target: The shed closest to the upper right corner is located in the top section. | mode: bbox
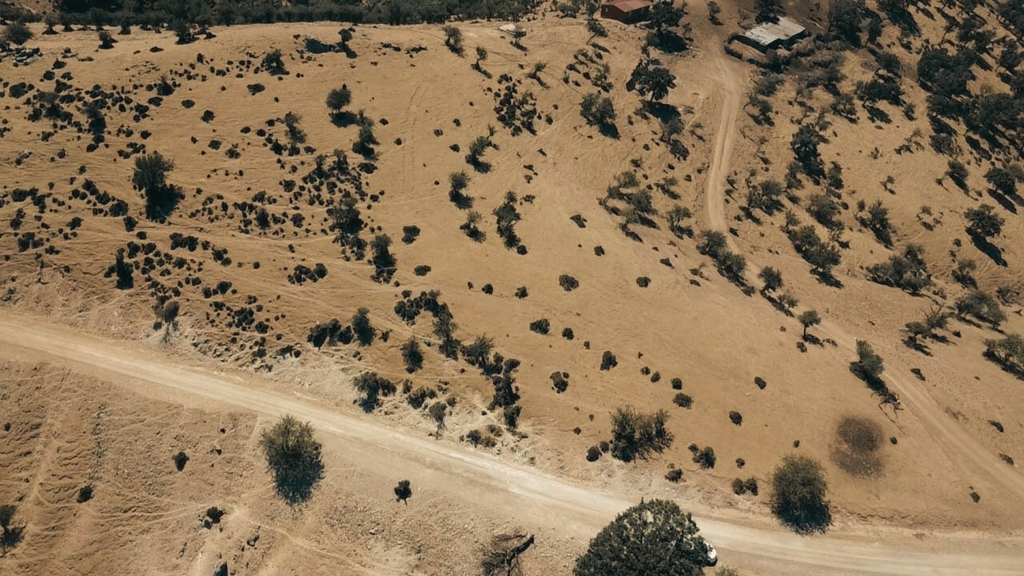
[747,18,804,51]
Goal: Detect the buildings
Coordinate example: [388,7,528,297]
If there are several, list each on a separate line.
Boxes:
[747,18,804,51]
[599,0,651,24]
